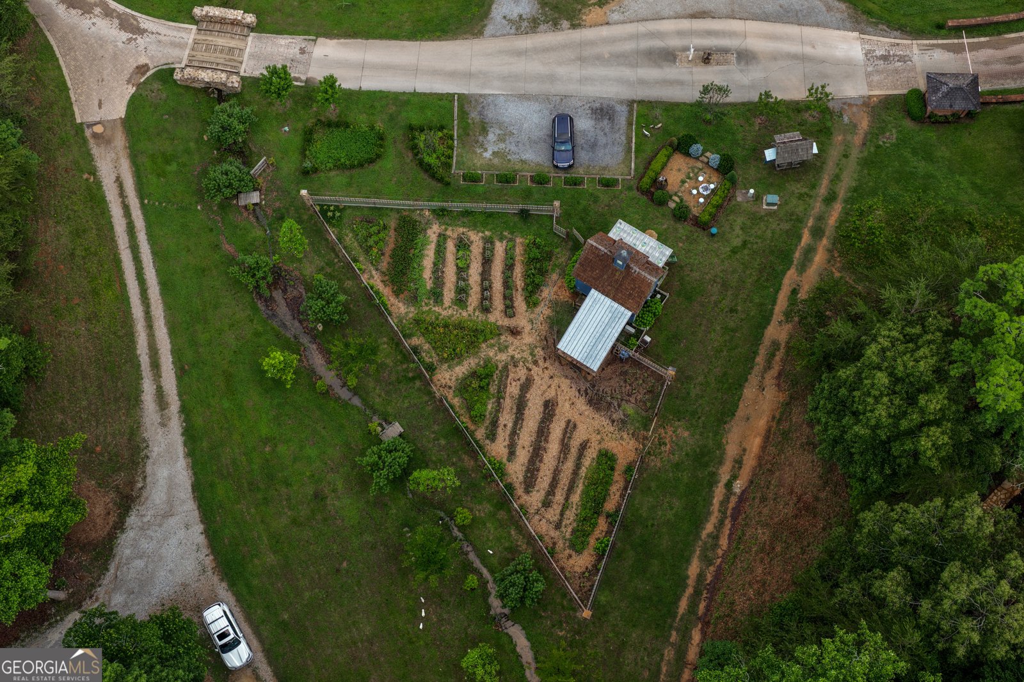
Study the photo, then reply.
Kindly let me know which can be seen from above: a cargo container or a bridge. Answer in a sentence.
There is a bridge in the scene.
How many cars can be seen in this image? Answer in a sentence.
The count of cars comes to 2.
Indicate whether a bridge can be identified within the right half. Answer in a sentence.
No, no bridge can be made out within the right half.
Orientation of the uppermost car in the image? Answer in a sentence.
The uppermost car runs up and down in the image.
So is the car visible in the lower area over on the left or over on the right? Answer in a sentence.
The car visible in the lower area appears in the left half of the scene.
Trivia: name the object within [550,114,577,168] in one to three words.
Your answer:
car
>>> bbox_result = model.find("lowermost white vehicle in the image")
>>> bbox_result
[204,601,252,674]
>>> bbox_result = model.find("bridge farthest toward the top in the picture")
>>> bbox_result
[173,22,261,75]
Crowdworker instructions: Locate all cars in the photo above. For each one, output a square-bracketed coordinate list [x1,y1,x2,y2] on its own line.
[550,114,577,168]
[204,601,252,674]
